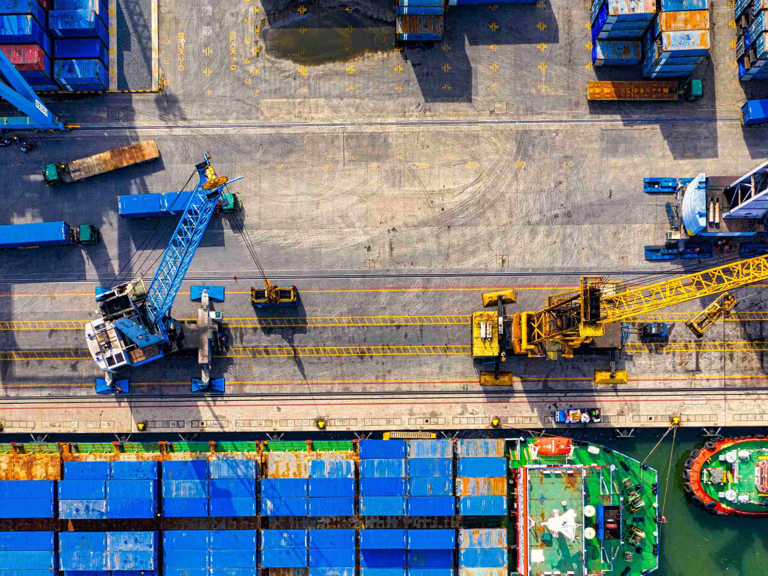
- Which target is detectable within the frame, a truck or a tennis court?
truck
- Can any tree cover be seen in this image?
No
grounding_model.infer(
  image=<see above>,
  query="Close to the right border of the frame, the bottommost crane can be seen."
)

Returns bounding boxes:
[469,251,768,386]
